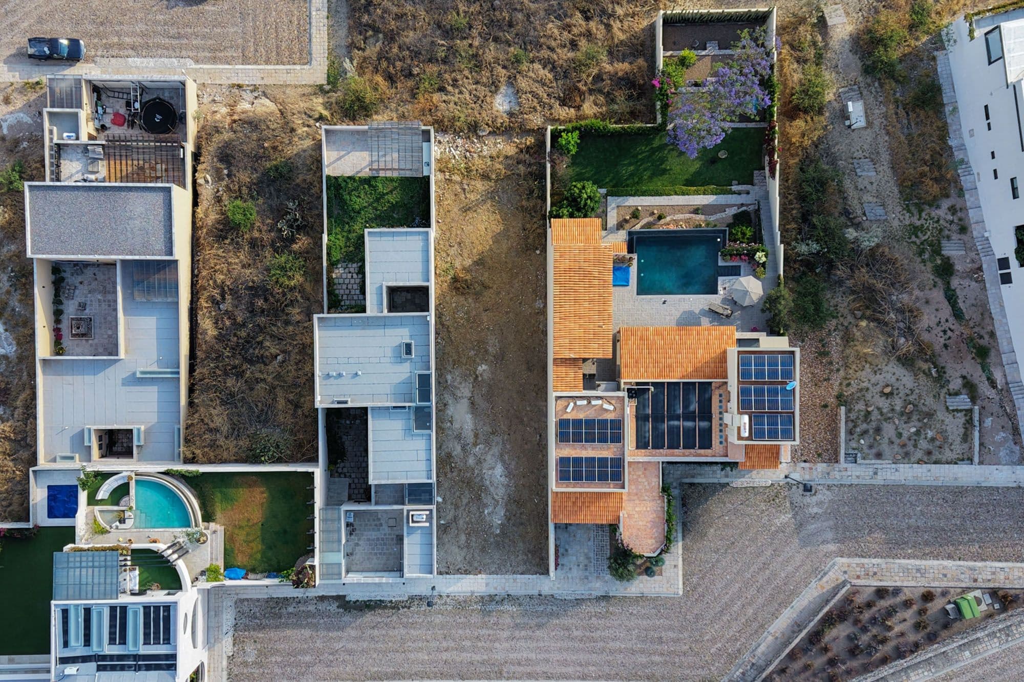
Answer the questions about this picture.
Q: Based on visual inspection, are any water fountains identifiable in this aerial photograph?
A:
Yes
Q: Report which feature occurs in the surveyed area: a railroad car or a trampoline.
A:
trampoline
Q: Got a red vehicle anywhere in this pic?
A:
No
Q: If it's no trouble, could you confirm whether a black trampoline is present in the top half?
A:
Yes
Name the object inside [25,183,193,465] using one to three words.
house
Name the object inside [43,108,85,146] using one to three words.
building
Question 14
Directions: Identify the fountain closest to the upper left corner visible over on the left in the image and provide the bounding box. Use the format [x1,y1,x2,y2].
[66,316,93,340]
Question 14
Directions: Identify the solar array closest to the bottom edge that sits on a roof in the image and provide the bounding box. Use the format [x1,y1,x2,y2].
[559,457,622,482]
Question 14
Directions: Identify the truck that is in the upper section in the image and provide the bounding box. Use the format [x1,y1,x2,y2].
[23,33,83,60]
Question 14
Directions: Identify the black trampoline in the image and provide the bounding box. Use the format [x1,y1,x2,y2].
[134,91,182,140]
